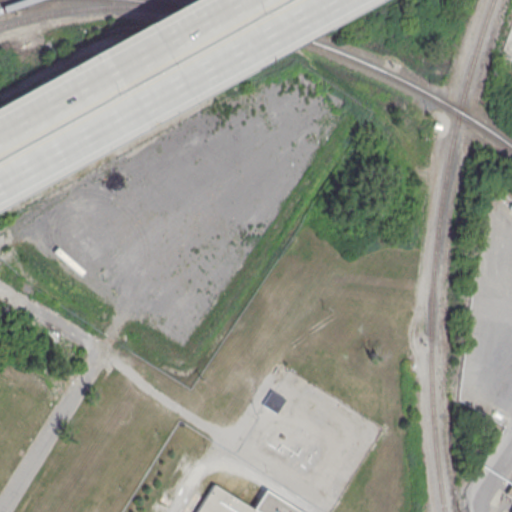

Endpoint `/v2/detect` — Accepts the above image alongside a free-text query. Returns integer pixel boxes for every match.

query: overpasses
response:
[0,0,386,214]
